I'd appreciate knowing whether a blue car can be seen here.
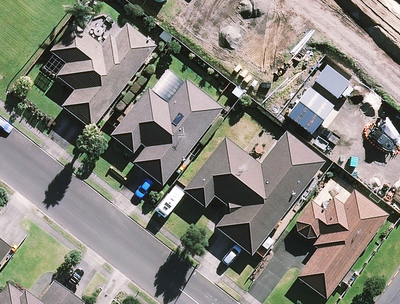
Yes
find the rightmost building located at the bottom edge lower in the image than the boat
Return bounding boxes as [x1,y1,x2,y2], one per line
[298,190,390,298]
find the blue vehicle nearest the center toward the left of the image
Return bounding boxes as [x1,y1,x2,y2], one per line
[136,178,154,200]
